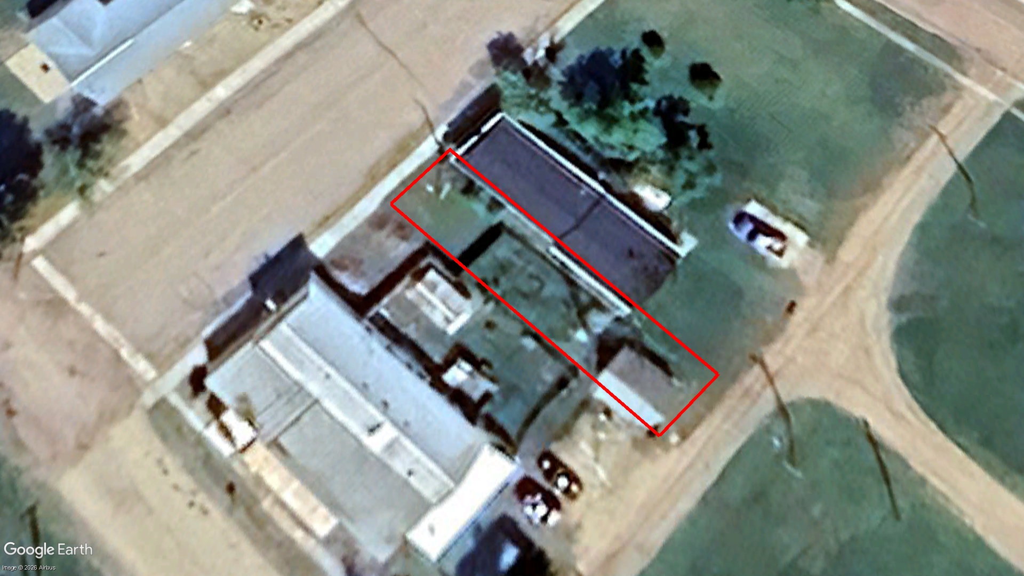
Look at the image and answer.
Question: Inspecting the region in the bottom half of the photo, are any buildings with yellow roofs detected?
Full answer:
No, the scene shows no building with a yellow roof in the bottom half of the photo.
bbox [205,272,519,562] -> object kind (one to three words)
building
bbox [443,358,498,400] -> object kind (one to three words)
shed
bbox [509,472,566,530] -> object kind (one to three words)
truck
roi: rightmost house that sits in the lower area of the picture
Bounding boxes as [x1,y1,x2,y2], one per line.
[592,345,687,430]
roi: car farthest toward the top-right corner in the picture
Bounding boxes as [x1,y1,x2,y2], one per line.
[730,213,790,265]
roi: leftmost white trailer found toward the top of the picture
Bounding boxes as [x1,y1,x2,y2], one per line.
[628,180,670,214]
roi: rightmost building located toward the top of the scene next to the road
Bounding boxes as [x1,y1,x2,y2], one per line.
[452,114,699,318]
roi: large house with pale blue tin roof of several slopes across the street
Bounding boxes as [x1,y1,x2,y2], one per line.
[28,0,257,106]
